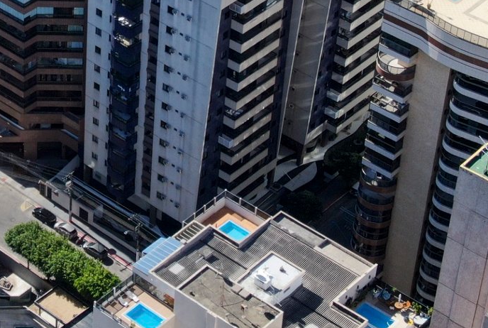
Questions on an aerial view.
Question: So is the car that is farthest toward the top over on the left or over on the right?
left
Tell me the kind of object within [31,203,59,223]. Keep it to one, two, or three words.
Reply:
car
